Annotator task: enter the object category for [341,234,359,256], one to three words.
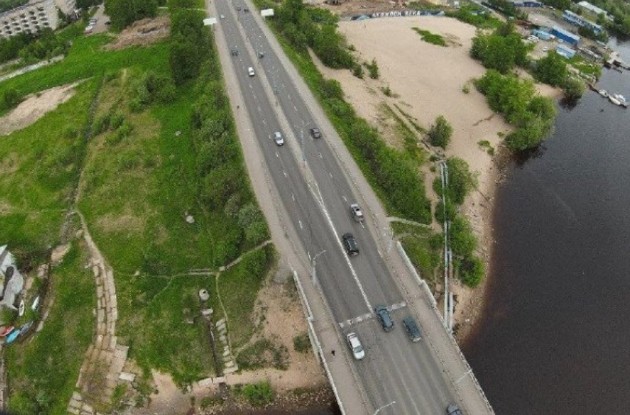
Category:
car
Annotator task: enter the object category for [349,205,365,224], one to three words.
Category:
car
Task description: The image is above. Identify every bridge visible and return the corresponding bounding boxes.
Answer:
[293,248,496,415]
